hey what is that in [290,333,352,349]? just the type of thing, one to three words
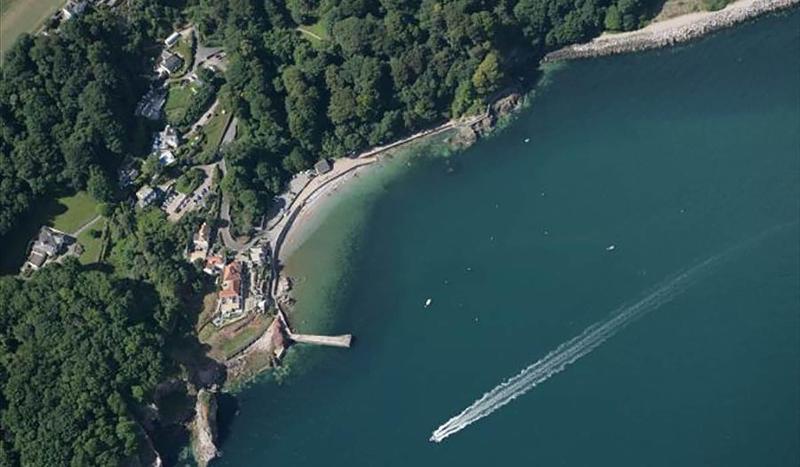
pier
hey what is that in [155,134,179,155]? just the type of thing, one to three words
house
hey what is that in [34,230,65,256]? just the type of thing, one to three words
house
